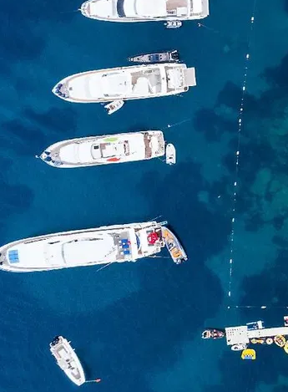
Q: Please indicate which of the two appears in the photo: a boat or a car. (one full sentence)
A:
I can see a boat in this picture.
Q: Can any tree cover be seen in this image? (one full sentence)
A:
No, no tree cover is visible.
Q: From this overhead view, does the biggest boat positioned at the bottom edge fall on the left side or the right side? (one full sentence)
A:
The biggest boat positioned at the bottom edge sits on the left side.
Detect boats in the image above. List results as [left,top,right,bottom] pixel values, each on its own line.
[167,230,186,266]
[0,221,180,266]
[166,145,175,168]
[166,22,182,28]
[47,334,85,386]
[200,330,225,339]
[80,0,216,24]
[102,102,125,115]
[232,344,249,351]
[40,131,173,165]
[52,62,206,102]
